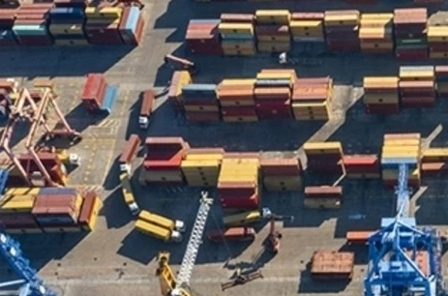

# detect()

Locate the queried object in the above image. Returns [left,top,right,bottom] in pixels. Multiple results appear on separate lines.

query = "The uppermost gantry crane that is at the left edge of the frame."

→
[0,91,83,167]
